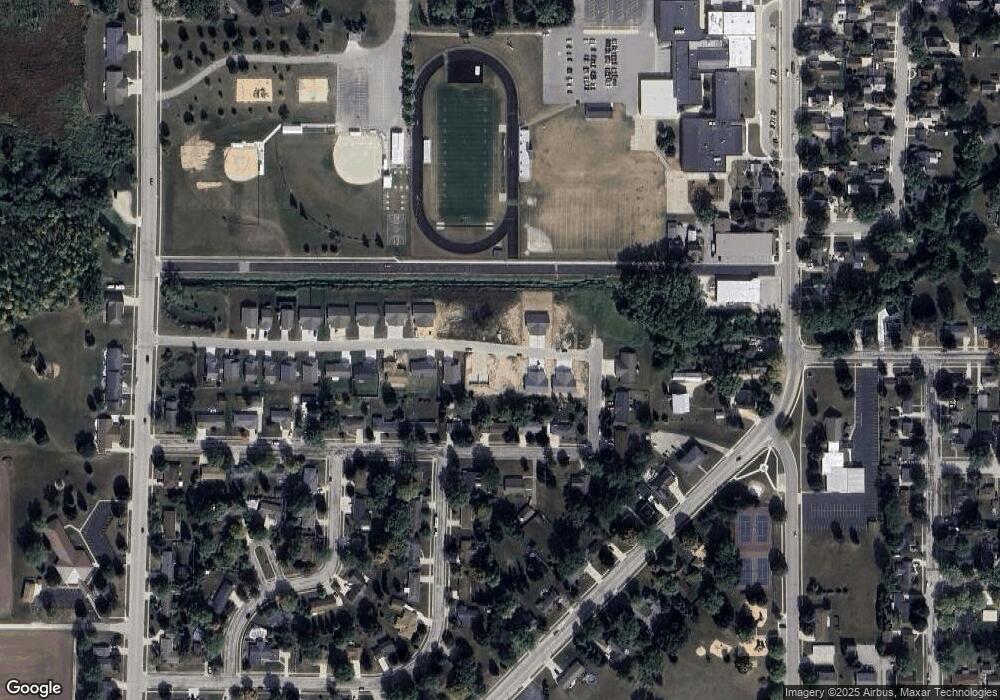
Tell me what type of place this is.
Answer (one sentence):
The picture captures a residential area.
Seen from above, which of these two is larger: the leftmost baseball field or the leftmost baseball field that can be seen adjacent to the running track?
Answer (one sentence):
The leftmost baseball field that can be seen adjacent to the running track takes up more space than the leftmost baseball field.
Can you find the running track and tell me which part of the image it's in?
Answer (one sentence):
The running track sits in the top section of the image.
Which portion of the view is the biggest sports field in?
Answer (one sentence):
The biggest sports field appears toward the top of the photo.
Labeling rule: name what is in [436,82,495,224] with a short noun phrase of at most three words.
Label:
sports field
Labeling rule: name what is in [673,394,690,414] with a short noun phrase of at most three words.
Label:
barn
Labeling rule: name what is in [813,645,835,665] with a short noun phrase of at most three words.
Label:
building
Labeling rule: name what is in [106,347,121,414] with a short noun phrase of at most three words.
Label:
house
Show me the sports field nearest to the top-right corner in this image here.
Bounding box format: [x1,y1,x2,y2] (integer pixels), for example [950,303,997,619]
[522,105,666,261]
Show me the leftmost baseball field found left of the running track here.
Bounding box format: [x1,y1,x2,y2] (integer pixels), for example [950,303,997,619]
[224,144,260,182]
